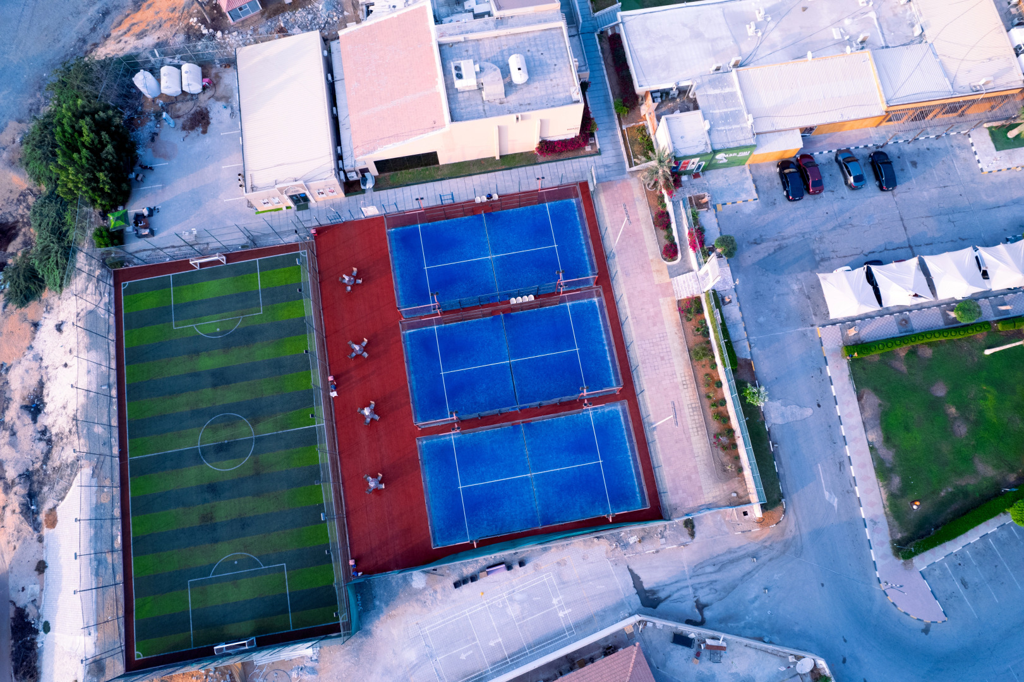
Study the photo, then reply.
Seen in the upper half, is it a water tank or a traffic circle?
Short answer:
water tank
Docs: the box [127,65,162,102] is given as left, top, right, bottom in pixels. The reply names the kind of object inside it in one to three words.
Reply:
water tank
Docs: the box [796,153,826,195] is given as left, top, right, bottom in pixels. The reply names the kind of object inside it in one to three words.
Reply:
car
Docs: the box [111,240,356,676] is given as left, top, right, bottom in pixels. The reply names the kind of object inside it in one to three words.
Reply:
soccer field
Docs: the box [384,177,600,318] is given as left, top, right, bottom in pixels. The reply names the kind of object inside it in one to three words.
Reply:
sports court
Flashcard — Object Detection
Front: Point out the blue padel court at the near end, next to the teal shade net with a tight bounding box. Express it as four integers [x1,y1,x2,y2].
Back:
[414,397,654,552]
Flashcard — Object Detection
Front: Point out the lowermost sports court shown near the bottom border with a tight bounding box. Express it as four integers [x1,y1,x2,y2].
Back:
[417,556,598,682]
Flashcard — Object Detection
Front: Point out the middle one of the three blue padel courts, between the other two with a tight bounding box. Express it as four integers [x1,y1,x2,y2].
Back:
[398,284,625,430]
